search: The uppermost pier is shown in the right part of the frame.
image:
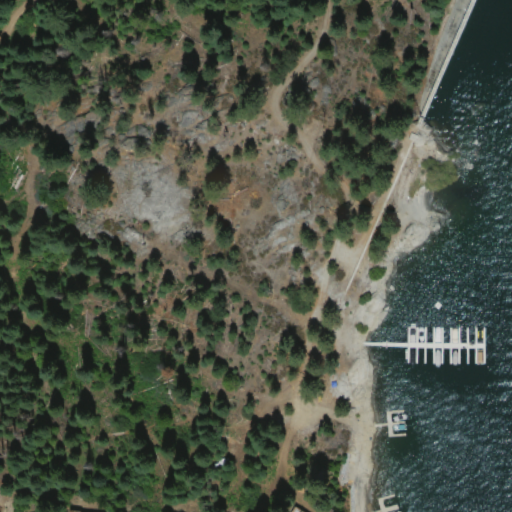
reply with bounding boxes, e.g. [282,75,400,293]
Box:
[362,327,486,364]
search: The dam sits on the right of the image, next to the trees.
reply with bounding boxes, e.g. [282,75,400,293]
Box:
[414,0,476,118]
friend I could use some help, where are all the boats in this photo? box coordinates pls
[410,324,416,342]
[452,327,458,342]
[410,349,416,365]
[435,348,442,367]
[478,350,484,365]
[452,350,457,365]
[435,326,442,342]
[419,328,424,342]
[392,415,408,421]
[393,426,408,432]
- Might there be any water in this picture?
Yes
